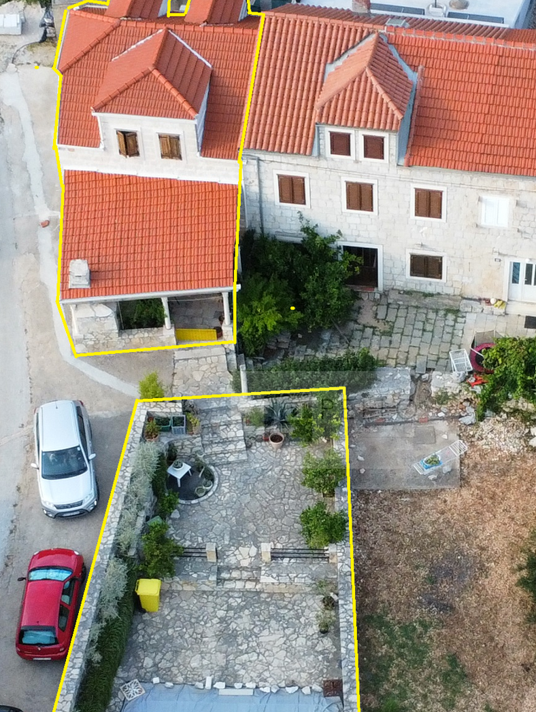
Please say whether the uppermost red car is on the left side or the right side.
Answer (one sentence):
The uppermost red car is on the left side of the image.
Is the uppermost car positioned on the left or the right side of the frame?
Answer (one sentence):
The uppermost car appears in the left half of the scene.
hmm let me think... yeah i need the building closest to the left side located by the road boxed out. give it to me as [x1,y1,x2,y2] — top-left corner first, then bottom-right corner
[54,0,279,347]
